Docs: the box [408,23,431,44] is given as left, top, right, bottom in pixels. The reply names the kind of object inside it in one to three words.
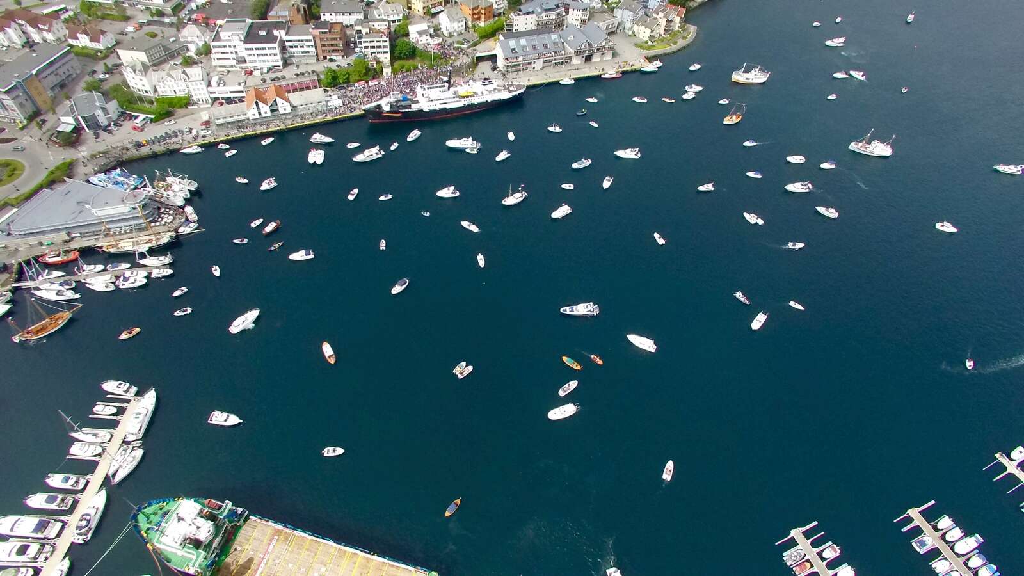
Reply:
house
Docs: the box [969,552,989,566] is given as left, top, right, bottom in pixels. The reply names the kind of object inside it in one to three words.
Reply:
boat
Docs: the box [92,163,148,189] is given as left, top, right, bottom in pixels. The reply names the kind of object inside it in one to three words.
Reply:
vessel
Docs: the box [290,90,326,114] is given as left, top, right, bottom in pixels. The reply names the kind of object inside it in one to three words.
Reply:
building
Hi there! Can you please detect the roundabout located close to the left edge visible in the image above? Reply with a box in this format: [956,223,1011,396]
[0,147,52,195]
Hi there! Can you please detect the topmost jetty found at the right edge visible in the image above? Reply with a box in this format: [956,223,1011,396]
[982,452,1024,494]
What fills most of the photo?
water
